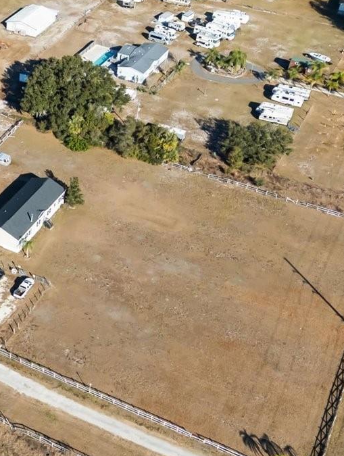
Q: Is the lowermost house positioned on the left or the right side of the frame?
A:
left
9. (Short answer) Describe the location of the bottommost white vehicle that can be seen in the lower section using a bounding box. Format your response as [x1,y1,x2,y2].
[11,278,37,301]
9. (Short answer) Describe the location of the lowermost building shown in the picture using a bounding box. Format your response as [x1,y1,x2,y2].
[0,176,64,252]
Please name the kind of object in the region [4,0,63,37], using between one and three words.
building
